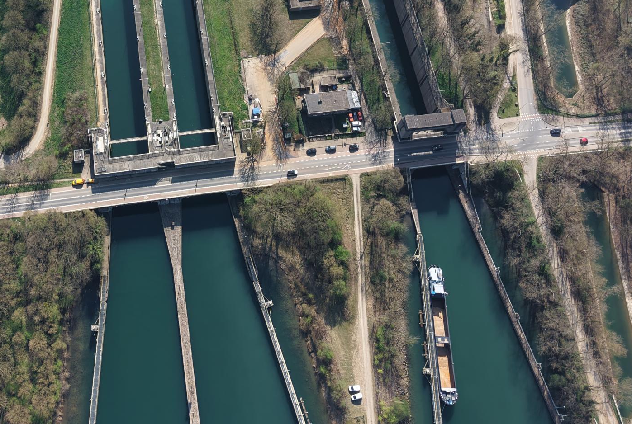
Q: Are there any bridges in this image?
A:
Yes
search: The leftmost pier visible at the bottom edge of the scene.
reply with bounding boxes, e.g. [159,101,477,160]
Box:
[88,274,107,424]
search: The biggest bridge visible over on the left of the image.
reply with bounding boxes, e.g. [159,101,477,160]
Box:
[75,160,253,211]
